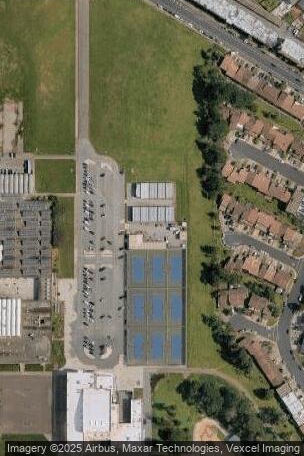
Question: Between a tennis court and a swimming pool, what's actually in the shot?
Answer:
tennis court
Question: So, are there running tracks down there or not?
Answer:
No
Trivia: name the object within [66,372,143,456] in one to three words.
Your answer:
building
